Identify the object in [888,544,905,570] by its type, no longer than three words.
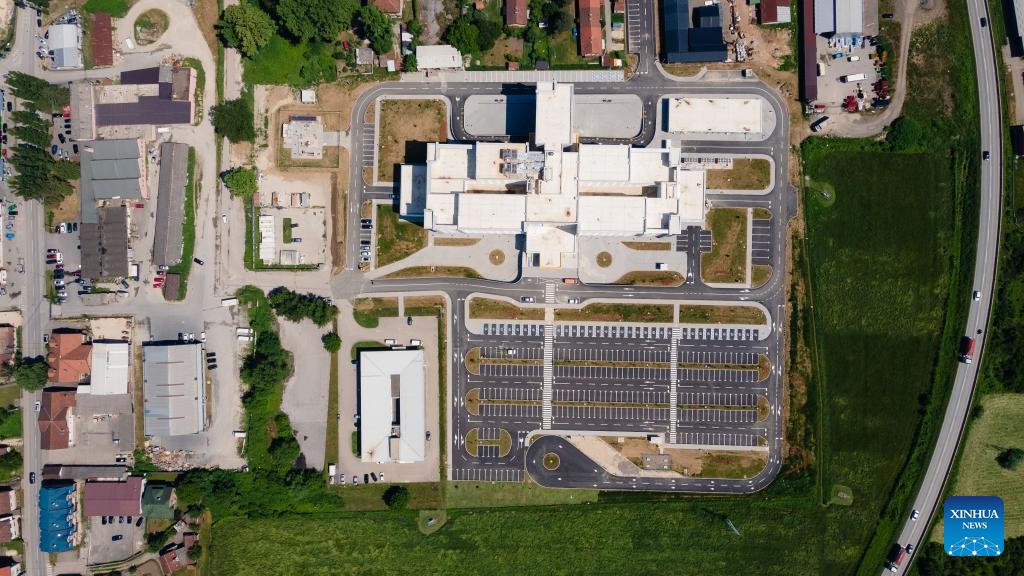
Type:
vehicle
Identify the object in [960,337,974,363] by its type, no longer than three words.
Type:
vehicle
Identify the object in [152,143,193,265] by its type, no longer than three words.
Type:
barn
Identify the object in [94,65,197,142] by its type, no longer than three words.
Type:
building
